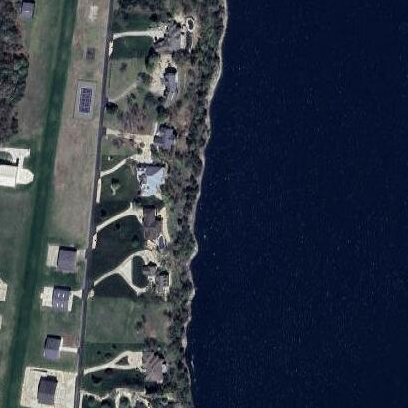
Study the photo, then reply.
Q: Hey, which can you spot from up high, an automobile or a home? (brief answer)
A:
home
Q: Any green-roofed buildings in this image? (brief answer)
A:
No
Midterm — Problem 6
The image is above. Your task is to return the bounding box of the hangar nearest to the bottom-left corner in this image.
[37,379,57,404]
